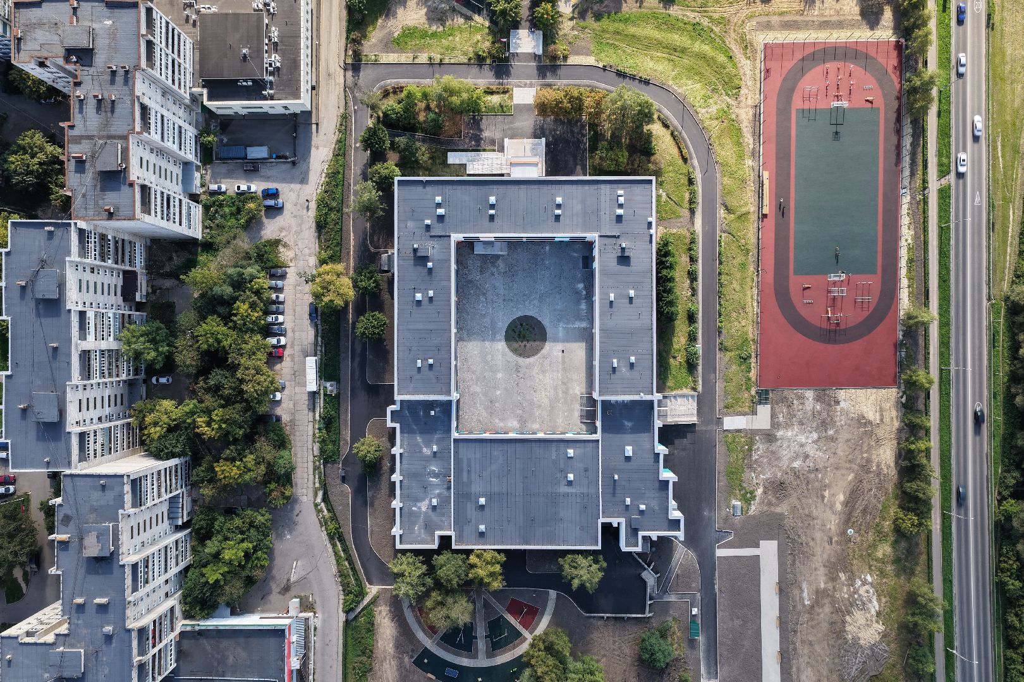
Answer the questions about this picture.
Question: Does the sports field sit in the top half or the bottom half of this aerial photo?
top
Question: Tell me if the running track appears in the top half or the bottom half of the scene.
top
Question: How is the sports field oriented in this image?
up and down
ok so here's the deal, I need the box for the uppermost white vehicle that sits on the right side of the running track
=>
[956,54,968,76]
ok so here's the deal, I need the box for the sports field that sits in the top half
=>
[794,107,880,275]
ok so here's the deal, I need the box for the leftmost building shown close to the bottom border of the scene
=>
[0,455,195,682]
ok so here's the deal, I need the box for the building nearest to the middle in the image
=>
[381,138,701,552]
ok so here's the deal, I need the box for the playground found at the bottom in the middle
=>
[402,588,557,682]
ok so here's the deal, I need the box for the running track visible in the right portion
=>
[774,46,899,344]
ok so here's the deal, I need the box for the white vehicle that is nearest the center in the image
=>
[305,358,319,390]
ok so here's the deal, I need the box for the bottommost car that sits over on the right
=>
[955,484,969,506]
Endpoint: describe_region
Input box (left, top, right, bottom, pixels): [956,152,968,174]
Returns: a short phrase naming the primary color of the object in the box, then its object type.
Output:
white vehicle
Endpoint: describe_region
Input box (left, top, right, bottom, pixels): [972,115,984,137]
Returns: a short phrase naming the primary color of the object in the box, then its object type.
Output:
white vehicle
